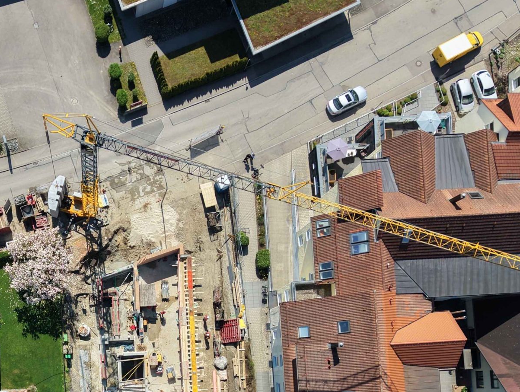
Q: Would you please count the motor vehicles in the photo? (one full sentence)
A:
The photo contains 4 motor vehicles.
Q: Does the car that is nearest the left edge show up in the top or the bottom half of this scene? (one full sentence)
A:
Seen from above, the car that is nearest the left edge lies in the top half of the view.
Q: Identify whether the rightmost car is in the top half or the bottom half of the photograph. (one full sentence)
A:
It is in the top half that the rightmost car appears.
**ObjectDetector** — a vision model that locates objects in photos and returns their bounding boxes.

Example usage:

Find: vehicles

[323,86,369,116]
[450,78,474,118]
[428,28,484,71]
[470,67,497,107]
